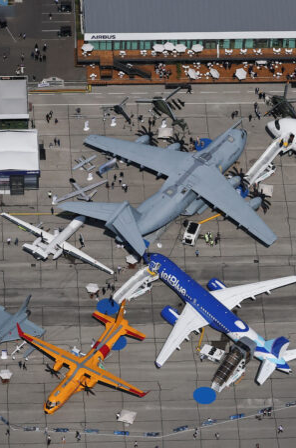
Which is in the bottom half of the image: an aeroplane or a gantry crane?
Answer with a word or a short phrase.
aeroplane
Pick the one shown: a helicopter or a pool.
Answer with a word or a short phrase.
helicopter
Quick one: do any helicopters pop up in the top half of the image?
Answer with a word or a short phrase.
Yes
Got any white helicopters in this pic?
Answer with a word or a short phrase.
No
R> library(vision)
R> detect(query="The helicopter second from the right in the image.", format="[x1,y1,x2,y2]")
[134,87,196,136]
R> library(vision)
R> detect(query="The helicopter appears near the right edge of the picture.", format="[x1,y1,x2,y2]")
[258,83,296,120]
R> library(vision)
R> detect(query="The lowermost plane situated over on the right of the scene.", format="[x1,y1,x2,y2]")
[142,256,296,385]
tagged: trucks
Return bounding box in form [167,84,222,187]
[196,340,225,364]
[181,220,202,249]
